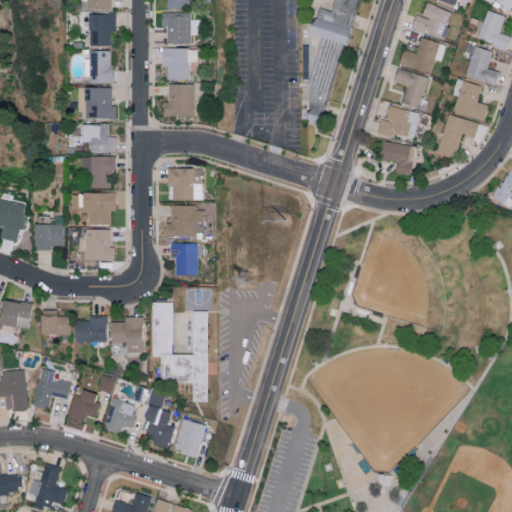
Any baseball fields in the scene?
Yes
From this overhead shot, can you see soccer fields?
No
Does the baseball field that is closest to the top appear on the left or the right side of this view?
right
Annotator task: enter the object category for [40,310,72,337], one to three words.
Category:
house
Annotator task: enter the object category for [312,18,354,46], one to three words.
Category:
building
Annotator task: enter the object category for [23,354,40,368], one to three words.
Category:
swimming pool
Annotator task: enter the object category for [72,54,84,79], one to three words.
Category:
swimming pool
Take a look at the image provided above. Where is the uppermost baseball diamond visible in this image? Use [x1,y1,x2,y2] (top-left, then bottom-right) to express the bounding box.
[354,223,430,324]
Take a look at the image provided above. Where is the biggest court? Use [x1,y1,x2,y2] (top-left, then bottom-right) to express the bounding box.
[186,288,212,310]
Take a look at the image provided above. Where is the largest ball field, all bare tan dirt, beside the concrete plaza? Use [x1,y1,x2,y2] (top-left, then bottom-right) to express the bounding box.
[310,350,468,472]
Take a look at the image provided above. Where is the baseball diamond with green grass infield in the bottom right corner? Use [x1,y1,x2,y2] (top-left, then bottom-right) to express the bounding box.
[422,446,512,512]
